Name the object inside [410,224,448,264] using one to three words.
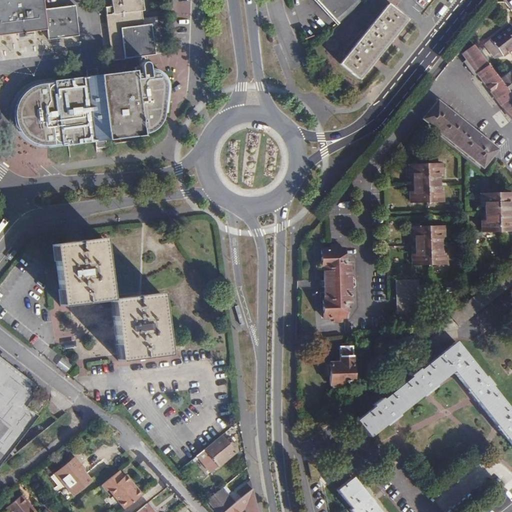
house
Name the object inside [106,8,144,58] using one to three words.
building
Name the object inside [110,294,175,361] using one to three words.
building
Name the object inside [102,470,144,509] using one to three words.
house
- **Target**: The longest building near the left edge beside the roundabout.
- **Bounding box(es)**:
[15,62,170,150]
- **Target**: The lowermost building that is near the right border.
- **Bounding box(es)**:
[360,342,512,451]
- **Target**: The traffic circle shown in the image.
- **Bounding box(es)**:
[197,102,307,214]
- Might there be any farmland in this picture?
No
